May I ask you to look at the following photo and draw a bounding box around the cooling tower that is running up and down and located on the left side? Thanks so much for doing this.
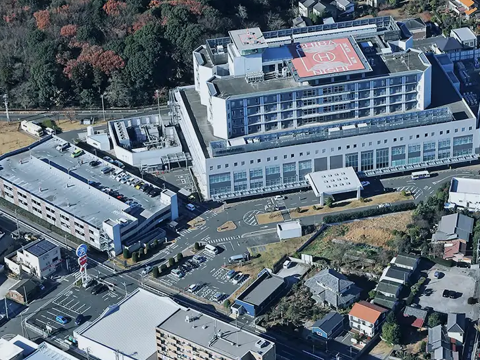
[116,122,132,151]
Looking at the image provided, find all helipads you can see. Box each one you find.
[284,36,366,77]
